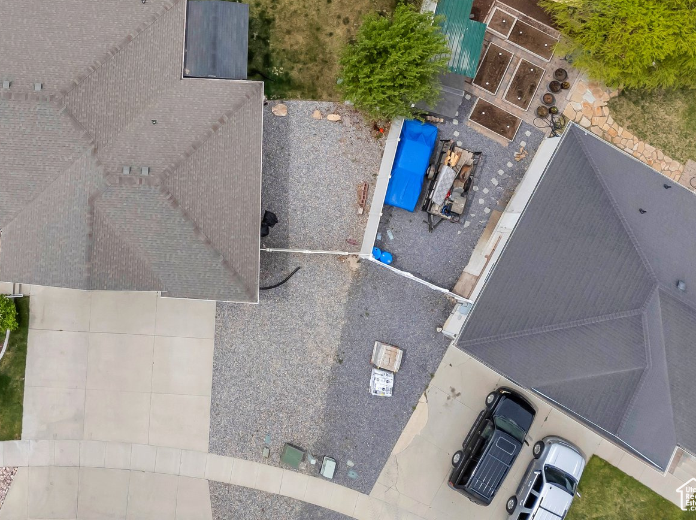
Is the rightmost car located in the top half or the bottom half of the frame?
bottom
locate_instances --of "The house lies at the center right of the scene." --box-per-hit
[443,117,696,471]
